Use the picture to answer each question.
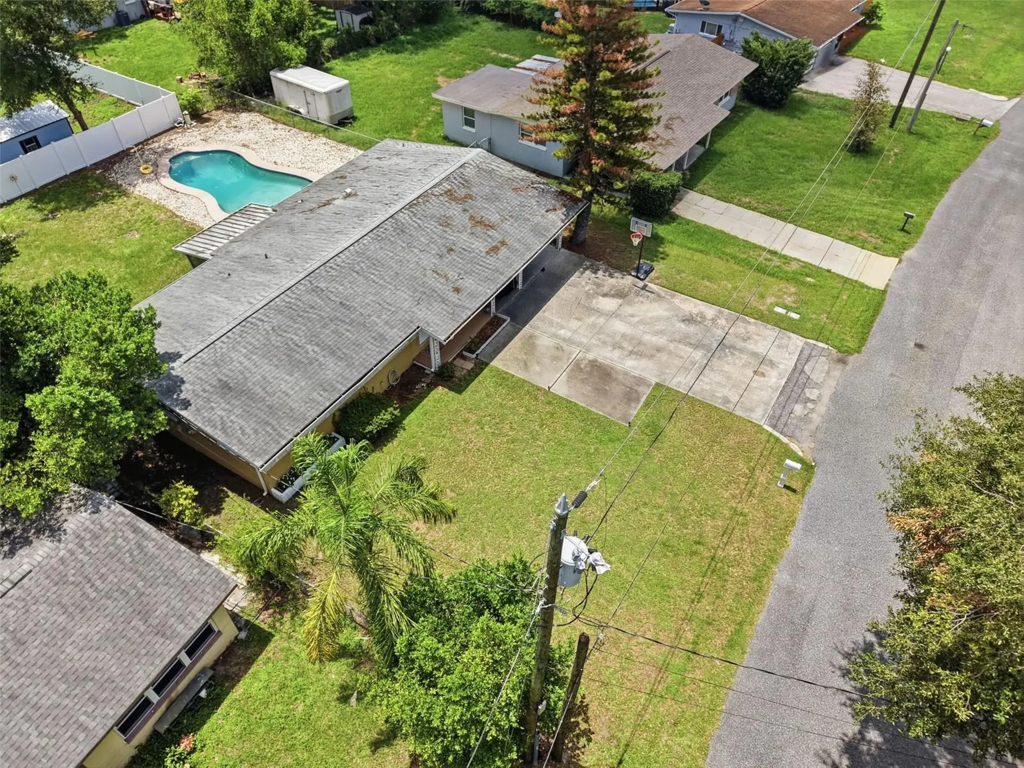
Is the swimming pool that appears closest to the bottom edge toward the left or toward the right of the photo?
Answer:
left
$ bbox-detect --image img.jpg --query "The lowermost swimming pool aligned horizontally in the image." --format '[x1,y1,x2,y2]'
[157,144,320,219]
